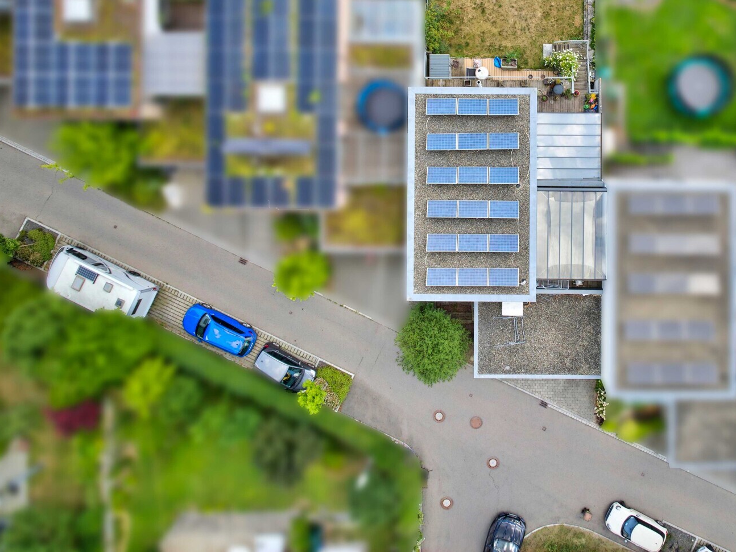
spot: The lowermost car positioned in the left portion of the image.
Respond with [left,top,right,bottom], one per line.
[250,341,317,395]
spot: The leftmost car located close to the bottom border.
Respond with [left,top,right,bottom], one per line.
[485,511,526,552]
